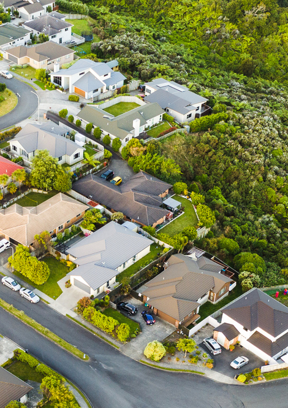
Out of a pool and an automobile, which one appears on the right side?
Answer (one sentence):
You can see an automobile on the right side.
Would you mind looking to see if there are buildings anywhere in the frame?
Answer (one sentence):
Yes, the frame does contain a building.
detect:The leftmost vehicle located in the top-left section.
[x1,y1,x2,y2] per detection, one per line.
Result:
[0,67,15,80]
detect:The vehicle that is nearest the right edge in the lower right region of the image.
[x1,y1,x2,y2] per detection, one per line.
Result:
[225,354,255,371]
